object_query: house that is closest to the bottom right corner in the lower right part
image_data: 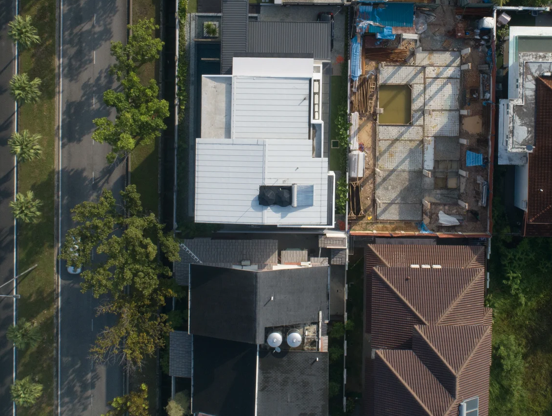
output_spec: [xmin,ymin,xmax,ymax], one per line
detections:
[364,239,494,416]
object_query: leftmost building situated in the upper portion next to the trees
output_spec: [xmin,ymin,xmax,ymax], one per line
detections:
[196,0,335,227]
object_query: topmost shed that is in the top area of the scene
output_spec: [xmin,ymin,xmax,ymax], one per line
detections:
[357,0,415,33]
